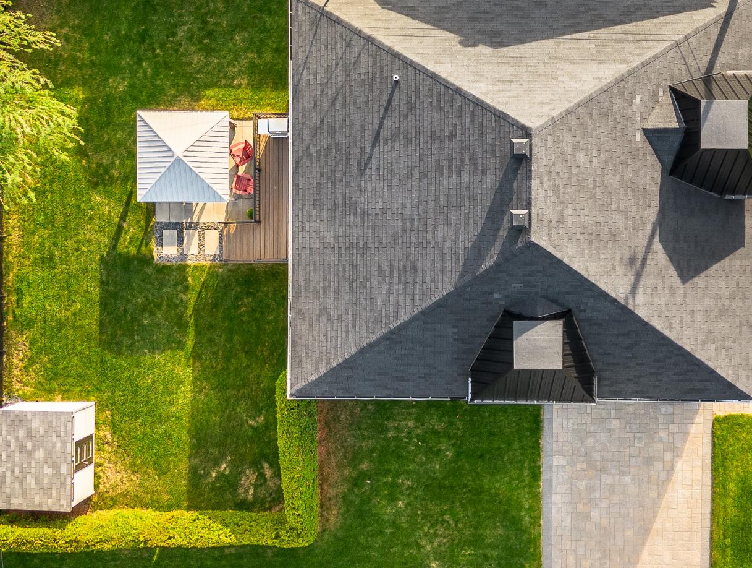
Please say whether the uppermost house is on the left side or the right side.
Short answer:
right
